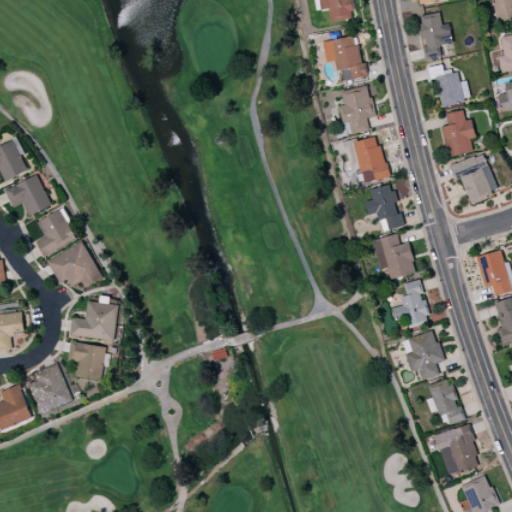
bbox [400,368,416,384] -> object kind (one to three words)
swimming pool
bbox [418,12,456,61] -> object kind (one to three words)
house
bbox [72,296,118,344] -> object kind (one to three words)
house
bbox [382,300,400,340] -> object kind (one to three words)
swimming pool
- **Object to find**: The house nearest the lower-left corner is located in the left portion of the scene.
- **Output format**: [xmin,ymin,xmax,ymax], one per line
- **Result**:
[0,385,37,434]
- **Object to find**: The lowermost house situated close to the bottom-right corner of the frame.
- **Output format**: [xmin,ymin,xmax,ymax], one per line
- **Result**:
[462,474,504,512]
